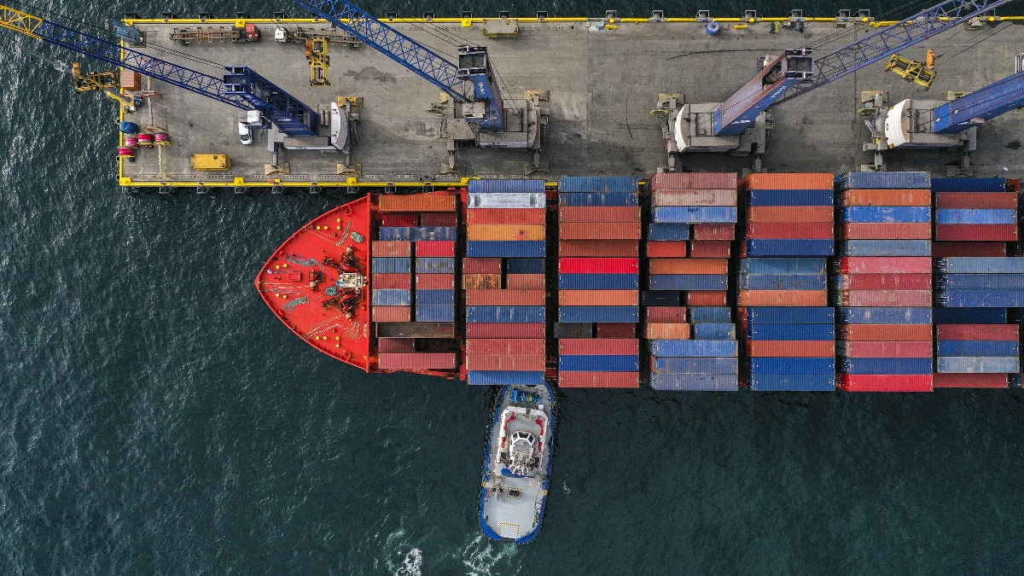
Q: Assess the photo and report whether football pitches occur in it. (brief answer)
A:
No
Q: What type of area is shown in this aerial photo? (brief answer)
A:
port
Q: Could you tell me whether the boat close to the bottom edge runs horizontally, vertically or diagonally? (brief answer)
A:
vertically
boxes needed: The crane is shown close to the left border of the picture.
[0,0,362,173]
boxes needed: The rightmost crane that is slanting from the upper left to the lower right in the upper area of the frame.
[255,0,552,173]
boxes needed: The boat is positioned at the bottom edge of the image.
[478,384,555,552]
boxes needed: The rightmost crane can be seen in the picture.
[855,57,1024,175]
